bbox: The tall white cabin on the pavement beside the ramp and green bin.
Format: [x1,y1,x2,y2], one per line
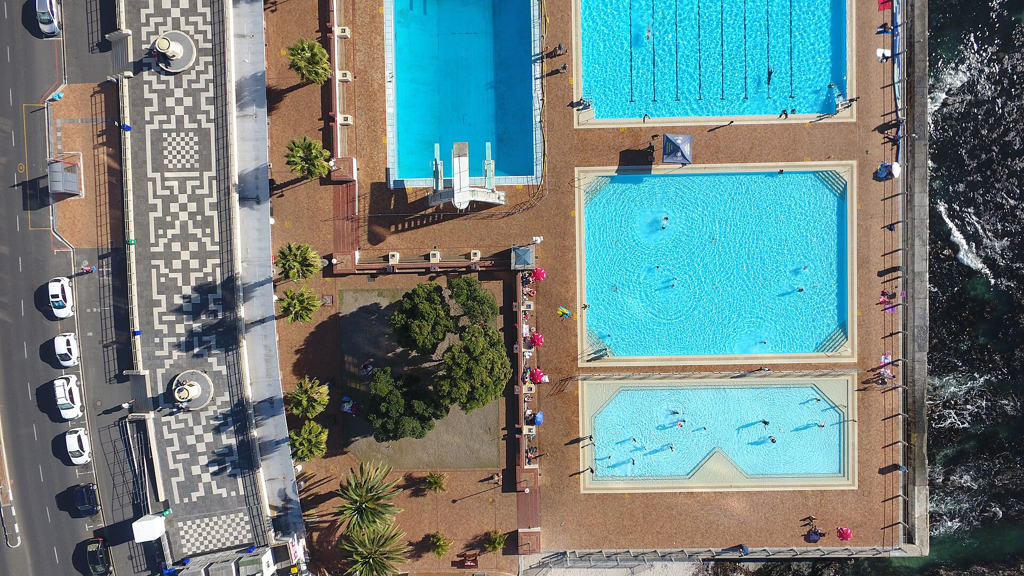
[132,507,172,542]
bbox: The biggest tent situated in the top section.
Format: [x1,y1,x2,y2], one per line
[658,132,694,171]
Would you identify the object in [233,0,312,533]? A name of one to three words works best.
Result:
building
